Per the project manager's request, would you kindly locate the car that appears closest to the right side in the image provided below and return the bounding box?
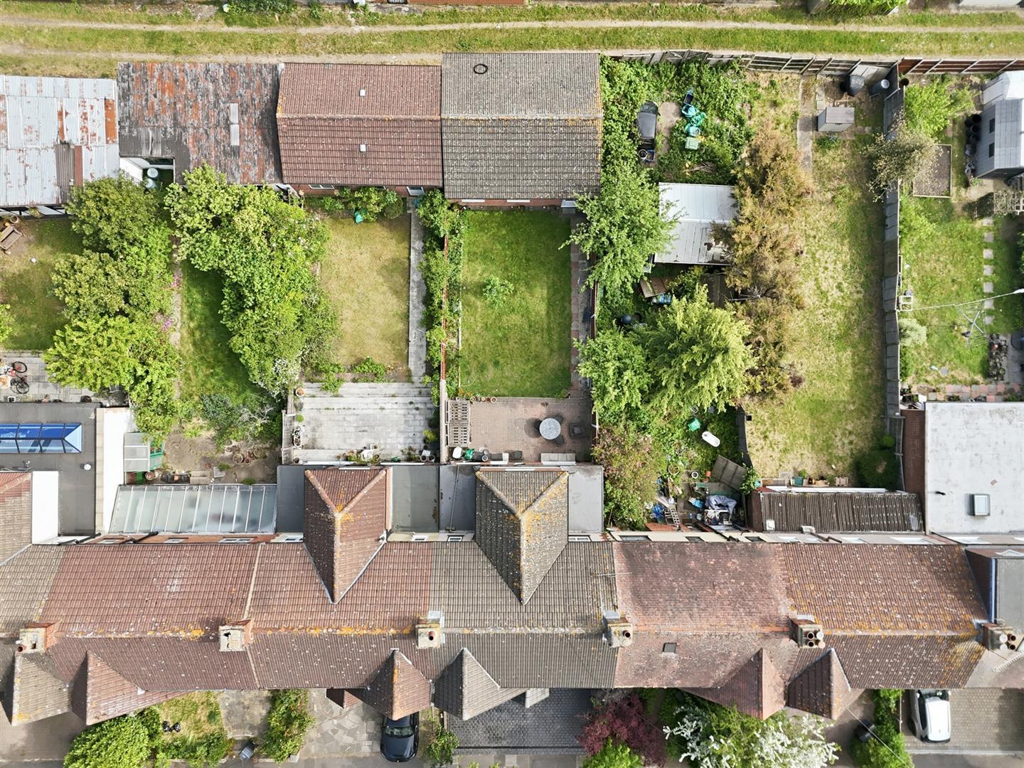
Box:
[909,691,951,740]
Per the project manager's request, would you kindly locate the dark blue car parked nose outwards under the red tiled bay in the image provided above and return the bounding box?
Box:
[378,709,423,762]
